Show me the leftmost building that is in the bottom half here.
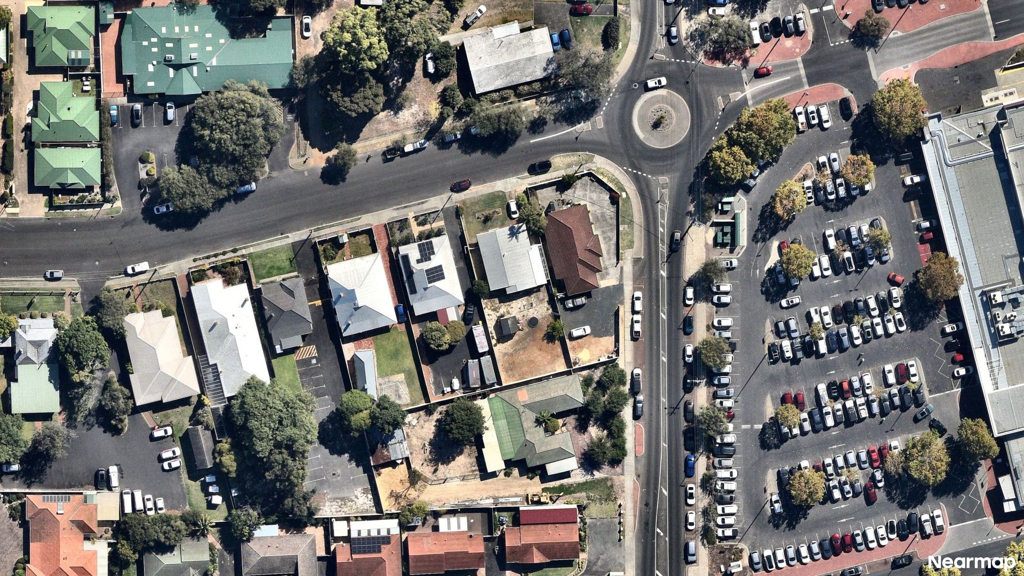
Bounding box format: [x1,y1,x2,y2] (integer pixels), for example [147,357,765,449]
[0,318,59,414]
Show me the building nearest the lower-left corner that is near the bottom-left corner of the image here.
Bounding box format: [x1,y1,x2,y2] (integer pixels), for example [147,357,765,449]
[26,492,119,576]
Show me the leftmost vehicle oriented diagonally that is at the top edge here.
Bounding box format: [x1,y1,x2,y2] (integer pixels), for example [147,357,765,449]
[466,6,485,25]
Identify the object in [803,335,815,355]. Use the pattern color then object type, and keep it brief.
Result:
black vehicle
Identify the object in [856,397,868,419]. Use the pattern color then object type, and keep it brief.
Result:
white vehicle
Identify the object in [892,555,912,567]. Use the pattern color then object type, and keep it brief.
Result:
black vehicle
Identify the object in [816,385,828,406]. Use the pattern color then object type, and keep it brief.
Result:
white vehicle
